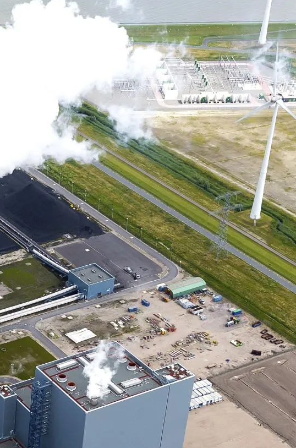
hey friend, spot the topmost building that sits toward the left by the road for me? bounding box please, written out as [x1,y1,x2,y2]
[69,263,113,299]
